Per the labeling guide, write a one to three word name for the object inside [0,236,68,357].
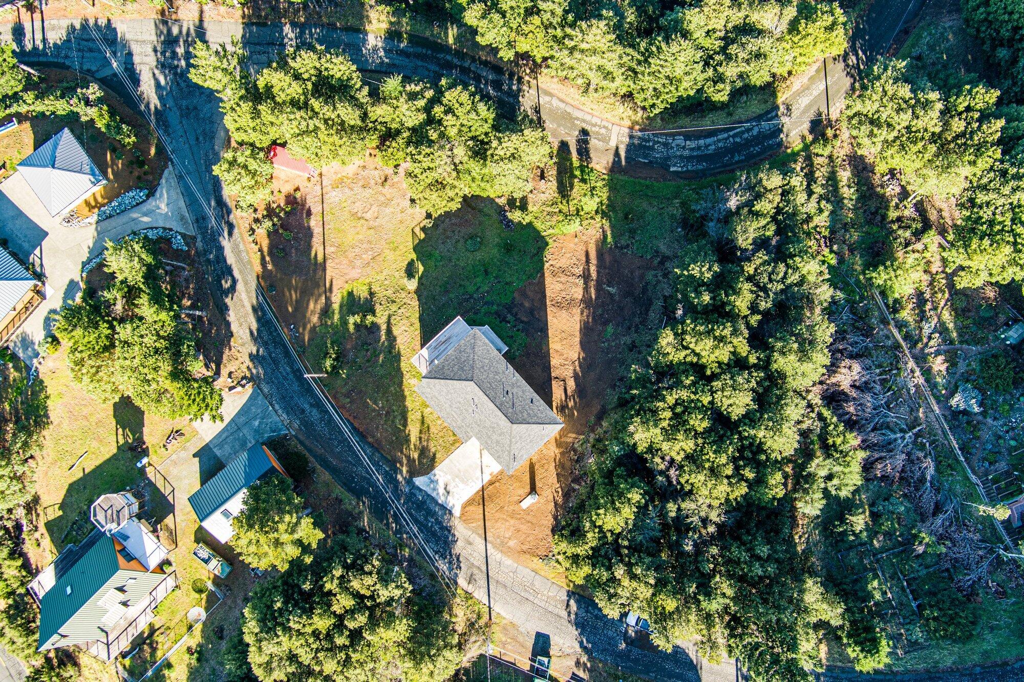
house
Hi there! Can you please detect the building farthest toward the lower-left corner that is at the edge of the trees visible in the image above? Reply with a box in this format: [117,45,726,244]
[27,512,198,666]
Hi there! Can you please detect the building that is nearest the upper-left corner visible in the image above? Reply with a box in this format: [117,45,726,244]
[15,128,114,218]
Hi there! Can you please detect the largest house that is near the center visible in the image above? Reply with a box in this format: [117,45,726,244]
[404,311,565,474]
